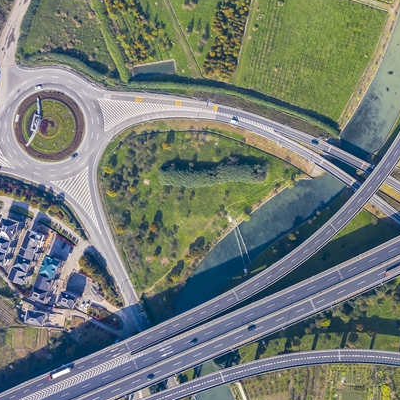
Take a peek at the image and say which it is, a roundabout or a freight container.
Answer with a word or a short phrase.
roundabout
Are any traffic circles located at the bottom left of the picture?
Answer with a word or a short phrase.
No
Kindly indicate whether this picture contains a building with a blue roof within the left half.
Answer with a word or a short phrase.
Yes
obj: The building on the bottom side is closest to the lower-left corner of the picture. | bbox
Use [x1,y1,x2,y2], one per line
[24,308,52,330]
